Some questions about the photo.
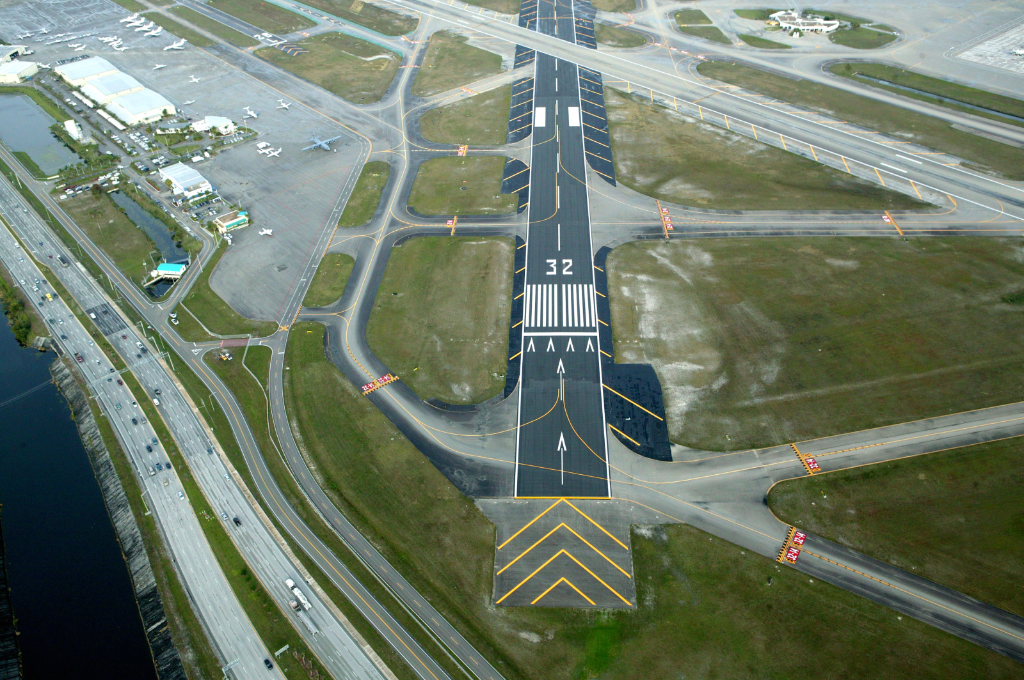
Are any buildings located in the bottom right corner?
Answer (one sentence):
No, there's no building to be seen in the bottom right corner.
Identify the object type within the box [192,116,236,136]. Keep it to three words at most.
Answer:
building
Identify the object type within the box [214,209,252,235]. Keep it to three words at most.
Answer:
building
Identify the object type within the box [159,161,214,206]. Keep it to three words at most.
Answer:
hangar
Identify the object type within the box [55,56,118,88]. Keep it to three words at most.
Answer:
hangar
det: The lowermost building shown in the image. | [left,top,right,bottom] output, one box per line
[157,264,188,280]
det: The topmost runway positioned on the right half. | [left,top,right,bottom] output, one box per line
[386,0,1024,219]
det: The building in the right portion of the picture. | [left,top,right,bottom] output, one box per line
[770,11,839,35]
